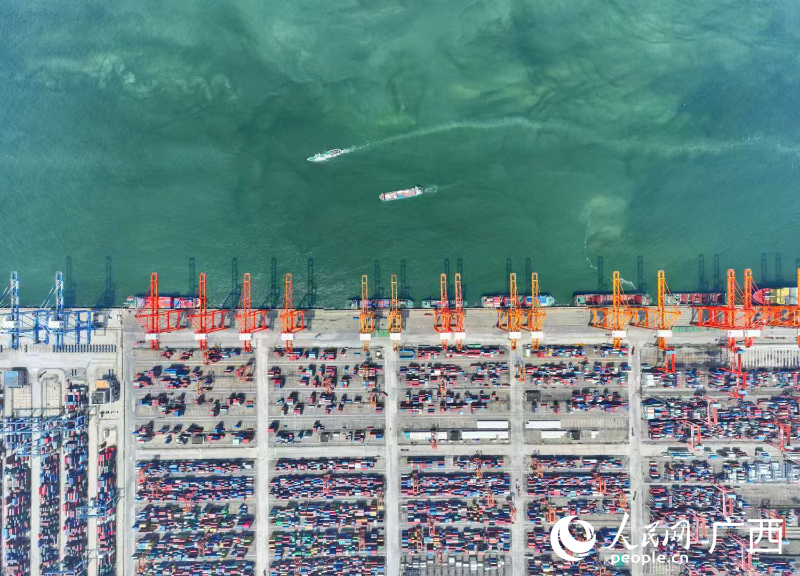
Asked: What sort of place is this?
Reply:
port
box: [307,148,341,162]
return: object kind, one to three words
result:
ship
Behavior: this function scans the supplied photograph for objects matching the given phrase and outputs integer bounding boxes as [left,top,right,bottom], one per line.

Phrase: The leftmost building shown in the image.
[4,370,25,385]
